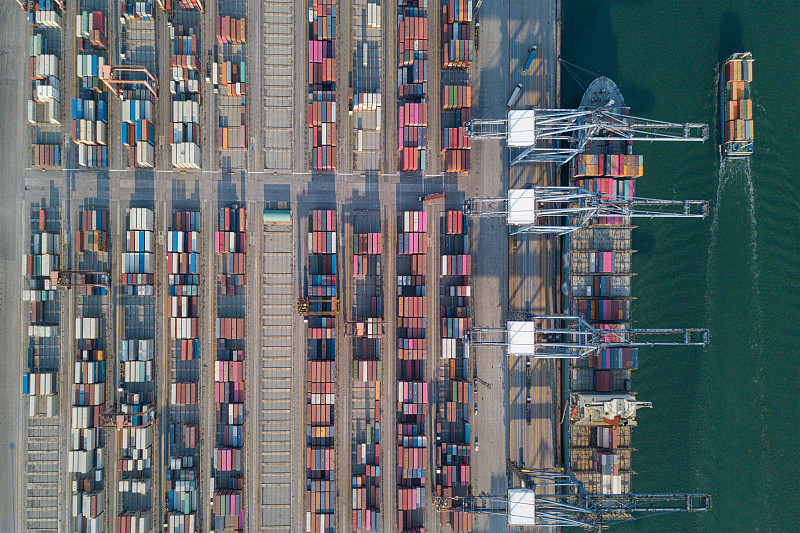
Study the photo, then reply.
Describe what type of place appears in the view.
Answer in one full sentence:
This looks like a port.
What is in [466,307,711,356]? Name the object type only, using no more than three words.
container crane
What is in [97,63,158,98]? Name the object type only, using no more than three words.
crane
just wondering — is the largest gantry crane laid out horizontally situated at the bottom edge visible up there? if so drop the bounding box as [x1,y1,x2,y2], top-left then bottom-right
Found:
[436,452,711,531]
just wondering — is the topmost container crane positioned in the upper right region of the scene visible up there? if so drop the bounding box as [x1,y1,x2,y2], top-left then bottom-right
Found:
[466,107,711,175]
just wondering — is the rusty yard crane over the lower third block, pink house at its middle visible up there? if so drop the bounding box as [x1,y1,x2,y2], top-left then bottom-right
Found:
[99,402,157,431]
